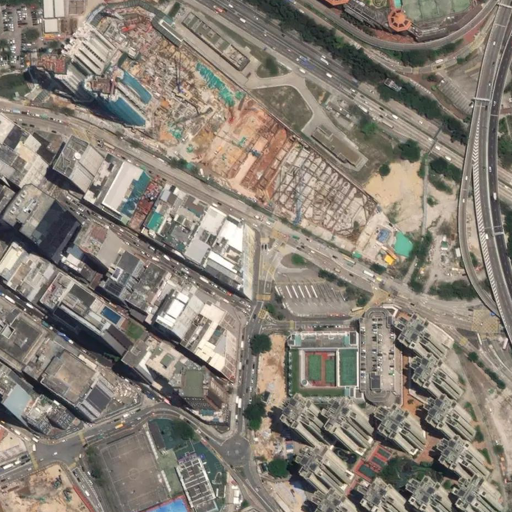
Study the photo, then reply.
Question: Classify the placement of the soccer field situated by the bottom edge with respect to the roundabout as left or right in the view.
to the left of it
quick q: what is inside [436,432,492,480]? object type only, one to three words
building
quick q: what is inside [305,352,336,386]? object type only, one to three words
sports court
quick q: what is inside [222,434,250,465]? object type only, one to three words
roundabout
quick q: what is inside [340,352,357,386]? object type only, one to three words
sports court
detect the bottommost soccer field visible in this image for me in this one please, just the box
[97,427,172,512]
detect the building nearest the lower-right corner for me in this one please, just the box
[450,472,507,512]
